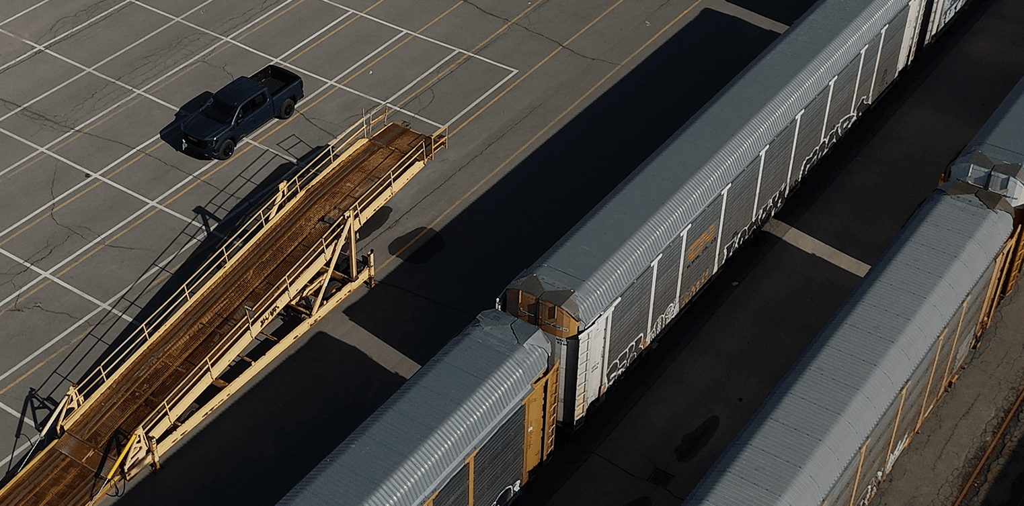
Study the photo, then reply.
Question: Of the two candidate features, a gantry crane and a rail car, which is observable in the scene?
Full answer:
This aerial view contains a rail car.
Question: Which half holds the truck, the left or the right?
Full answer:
The truck sits on the left side.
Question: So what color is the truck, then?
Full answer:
The truck is black.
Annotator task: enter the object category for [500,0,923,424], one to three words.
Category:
rail car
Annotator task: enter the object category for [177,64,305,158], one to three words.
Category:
truck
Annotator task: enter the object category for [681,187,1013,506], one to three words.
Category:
rail car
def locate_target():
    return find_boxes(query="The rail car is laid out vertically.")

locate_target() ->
[937,74,1024,302]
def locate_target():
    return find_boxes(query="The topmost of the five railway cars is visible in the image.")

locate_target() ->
[913,0,964,53]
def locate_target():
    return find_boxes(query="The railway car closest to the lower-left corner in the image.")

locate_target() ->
[267,311,555,506]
